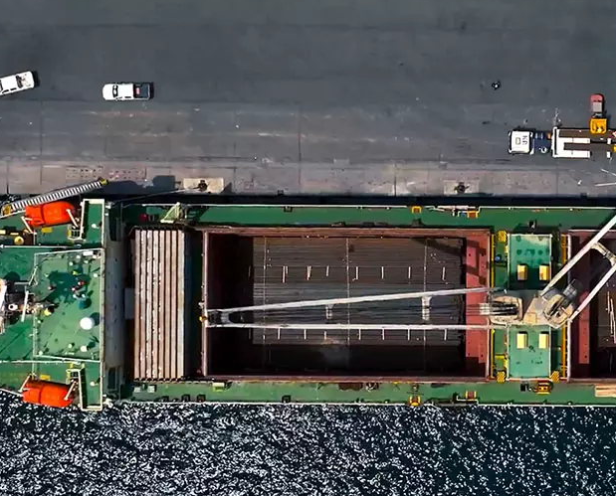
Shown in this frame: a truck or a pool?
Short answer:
truck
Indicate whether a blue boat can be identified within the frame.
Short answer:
No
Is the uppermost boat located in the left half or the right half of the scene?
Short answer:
left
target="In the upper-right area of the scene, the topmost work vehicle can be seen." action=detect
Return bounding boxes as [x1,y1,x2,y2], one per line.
[590,97,604,118]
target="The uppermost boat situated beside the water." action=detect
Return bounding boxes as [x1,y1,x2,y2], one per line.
[27,200,80,229]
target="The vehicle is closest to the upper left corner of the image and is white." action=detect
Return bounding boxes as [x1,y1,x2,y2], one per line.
[0,70,38,97]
